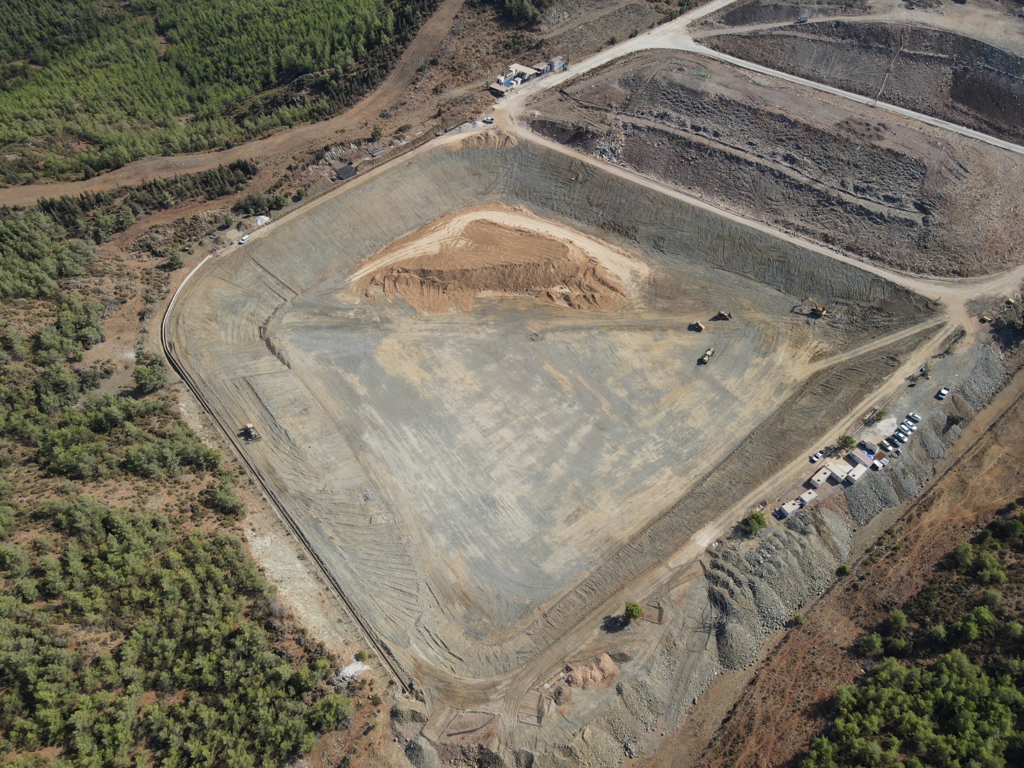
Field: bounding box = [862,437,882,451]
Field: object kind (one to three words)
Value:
vehicle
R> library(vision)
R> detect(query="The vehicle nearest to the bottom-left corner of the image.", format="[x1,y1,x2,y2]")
[244,424,258,439]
